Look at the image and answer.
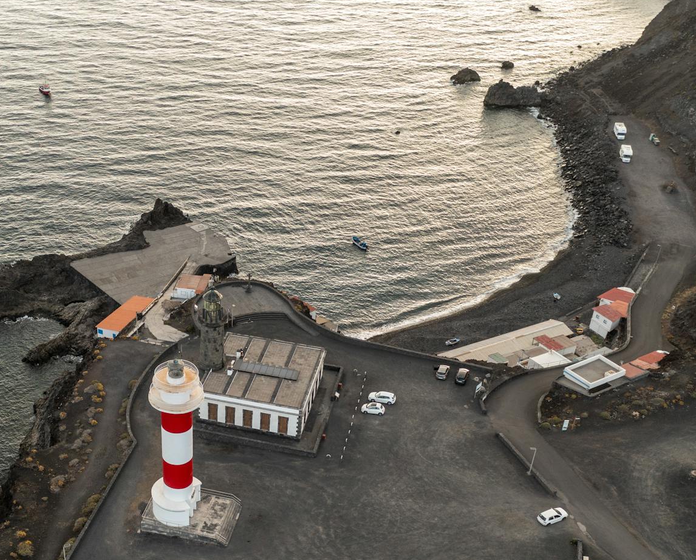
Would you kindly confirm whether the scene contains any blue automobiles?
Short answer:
No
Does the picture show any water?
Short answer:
Yes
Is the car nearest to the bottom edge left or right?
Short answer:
right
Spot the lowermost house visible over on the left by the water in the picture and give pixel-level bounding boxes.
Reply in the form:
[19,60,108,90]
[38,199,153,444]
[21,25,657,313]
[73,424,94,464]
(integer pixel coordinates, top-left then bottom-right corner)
[197,334,325,437]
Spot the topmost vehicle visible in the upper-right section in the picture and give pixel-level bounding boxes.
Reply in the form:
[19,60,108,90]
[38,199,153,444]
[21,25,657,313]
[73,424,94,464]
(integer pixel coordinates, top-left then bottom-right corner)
[616,120,628,138]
